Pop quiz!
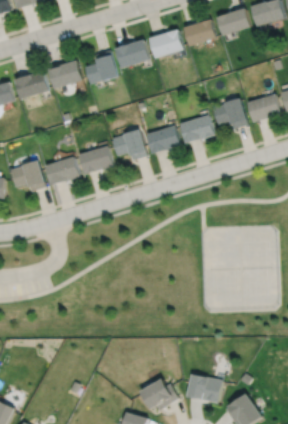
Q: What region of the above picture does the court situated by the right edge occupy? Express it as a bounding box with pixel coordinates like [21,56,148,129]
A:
[204,226,282,312]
